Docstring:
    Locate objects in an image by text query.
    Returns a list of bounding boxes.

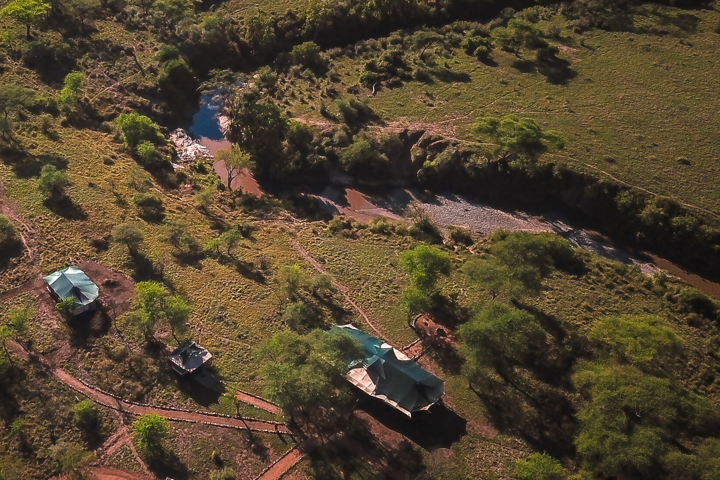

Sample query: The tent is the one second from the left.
[169,347,213,387]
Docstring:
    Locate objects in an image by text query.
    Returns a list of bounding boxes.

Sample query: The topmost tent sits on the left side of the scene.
[44,266,100,319]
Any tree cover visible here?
Yes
